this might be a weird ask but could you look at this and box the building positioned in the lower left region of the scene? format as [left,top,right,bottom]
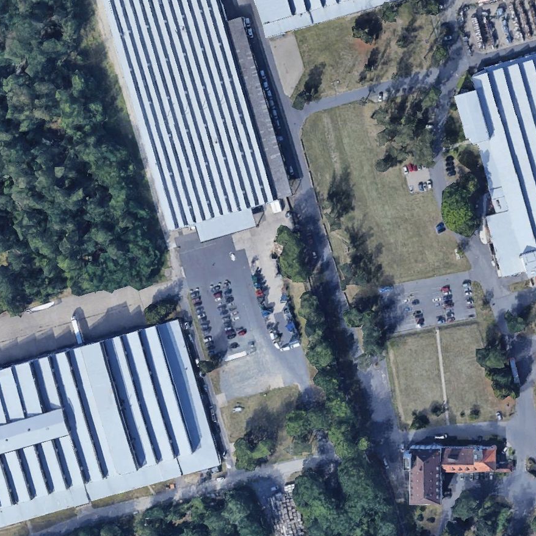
[0,318,222,527]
